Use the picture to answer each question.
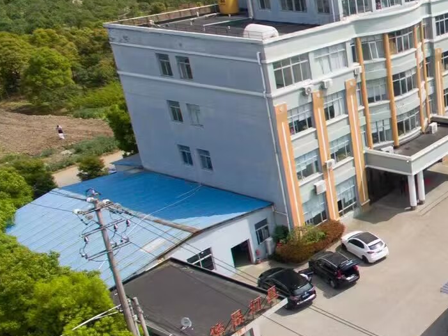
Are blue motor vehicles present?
No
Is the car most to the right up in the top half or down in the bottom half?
bottom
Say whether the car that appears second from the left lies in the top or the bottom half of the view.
bottom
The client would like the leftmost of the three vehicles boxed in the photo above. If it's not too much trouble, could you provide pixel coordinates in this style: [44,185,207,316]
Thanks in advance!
[263,268,316,306]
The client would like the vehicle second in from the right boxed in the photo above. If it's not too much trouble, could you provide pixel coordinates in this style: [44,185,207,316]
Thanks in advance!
[308,251,356,287]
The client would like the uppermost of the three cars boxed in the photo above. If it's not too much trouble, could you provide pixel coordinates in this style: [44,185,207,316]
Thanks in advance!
[340,233,386,261]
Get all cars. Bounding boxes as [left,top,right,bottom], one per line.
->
[340,233,386,261]
[263,268,316,306]
[308,251,356,287]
